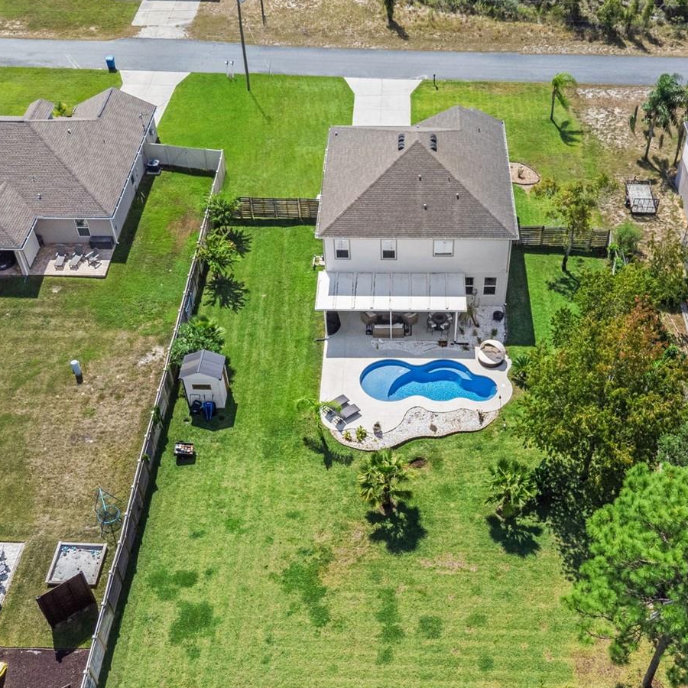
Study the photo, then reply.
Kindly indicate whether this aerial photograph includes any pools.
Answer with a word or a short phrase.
Yes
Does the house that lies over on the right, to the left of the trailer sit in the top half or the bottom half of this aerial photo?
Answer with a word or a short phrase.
top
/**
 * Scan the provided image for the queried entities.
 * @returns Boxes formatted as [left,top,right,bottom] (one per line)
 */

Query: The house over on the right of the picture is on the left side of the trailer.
[314,100,522,339]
